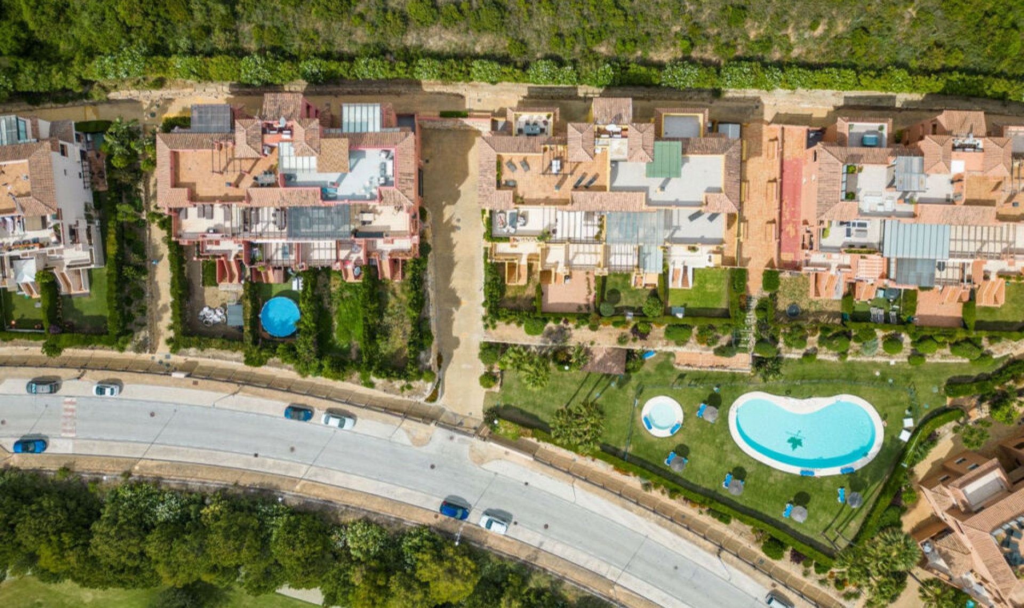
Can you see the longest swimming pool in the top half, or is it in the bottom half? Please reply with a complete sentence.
You can find the longest swimming pool in the bottom half.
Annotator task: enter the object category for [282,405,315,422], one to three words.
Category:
car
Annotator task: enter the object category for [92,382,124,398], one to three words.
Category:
car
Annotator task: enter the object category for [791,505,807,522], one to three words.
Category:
umbrella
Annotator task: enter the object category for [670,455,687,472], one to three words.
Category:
umbrella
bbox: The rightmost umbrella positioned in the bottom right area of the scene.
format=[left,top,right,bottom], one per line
[846,491,863,508]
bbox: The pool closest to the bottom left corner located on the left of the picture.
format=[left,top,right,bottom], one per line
[261,296,301,338]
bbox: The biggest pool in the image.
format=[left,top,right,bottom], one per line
[729,391,884,476]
